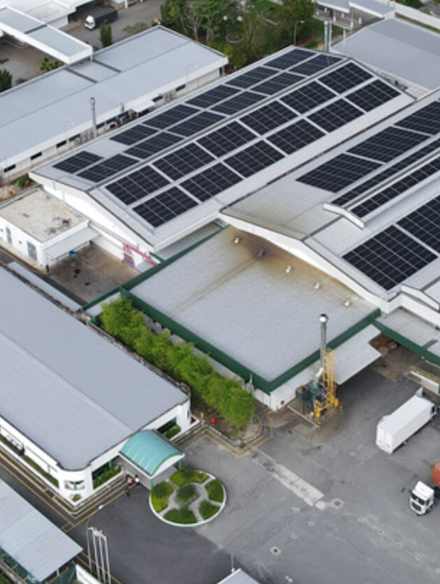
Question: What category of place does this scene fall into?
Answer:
industrial area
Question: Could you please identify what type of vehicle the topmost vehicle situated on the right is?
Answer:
truck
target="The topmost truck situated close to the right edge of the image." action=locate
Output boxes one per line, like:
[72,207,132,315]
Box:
[376,389,439,447]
